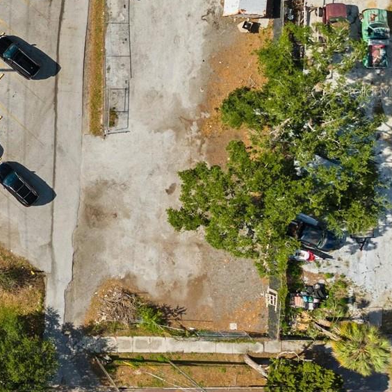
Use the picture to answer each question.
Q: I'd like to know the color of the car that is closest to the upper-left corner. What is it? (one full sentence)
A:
The car that is closest to the upper-left corner is black.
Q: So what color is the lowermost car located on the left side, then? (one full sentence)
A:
The color of the lowermost car located on the left side is black.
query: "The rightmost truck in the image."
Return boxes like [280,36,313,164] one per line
[362,9,392,69]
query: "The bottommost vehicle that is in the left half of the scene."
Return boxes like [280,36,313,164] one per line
[0,162,42,210]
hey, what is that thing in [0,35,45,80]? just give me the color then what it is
black car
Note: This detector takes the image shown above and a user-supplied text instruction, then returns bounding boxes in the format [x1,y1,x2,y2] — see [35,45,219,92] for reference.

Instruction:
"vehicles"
[295,212,352,251]
[326,0,355,50]
[0,35,45,80]
[0,162,42,210]
[362,9,392,69]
